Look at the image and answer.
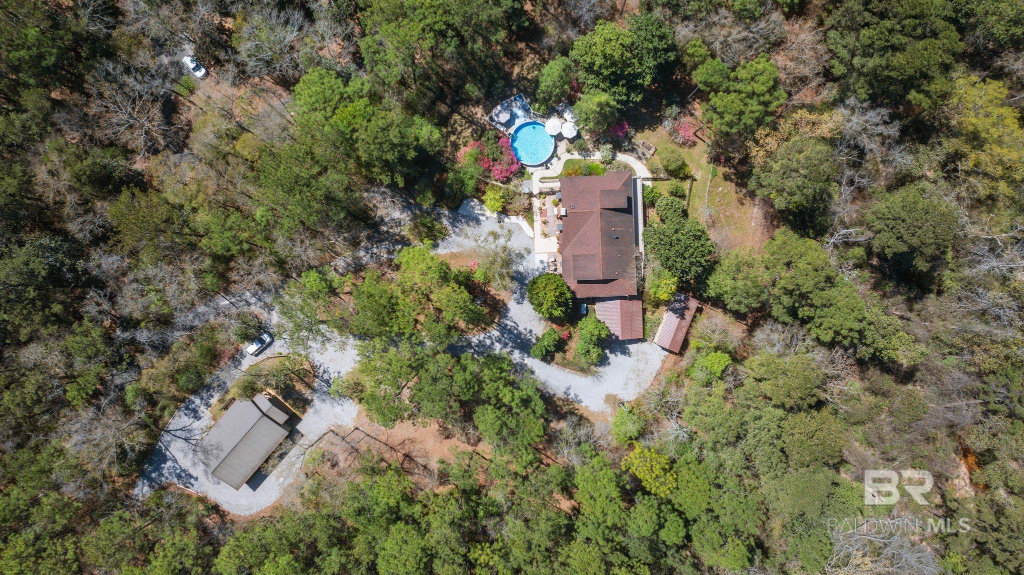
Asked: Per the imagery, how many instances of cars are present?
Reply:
2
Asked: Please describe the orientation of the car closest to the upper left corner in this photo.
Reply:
at an angle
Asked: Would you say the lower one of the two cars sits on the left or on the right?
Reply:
left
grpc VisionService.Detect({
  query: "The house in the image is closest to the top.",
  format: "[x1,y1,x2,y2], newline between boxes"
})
[555,171,637,298]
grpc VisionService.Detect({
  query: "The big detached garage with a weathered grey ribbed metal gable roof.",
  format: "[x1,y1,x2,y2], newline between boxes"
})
[193,393,291,491]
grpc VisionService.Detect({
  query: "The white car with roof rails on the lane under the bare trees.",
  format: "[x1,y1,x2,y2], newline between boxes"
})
[182,55,207,79]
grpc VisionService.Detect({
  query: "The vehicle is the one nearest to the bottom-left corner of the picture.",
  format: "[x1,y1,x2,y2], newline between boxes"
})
[246,333,273,356]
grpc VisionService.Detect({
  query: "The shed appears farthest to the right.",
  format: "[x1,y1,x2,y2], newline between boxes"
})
[653,292,698,353]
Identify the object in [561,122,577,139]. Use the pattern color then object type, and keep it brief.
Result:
white umbrella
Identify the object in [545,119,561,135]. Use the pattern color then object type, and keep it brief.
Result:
white umbrella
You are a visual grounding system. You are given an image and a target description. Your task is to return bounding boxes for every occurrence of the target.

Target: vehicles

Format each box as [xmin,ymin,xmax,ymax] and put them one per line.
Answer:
[246,333,273,356]
[182,55,207,79]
